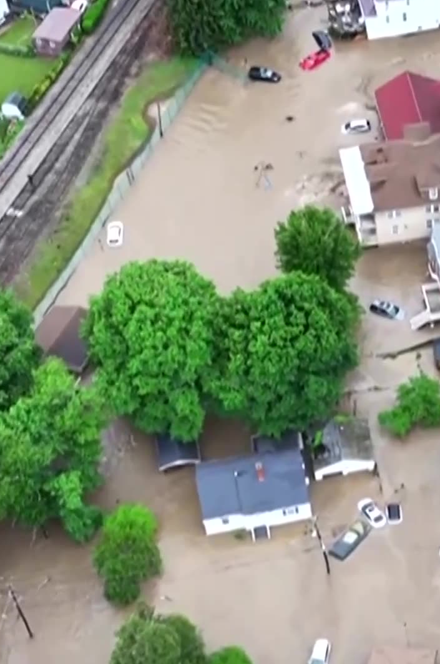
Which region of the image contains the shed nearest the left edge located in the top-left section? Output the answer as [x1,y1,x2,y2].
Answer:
[1,98,30,123]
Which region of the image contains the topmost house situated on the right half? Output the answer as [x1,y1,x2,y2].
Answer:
[358,0,440,39]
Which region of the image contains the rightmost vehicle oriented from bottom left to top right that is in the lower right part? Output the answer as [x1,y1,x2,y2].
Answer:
[326,521,373,566]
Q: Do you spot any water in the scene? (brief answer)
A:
Yes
